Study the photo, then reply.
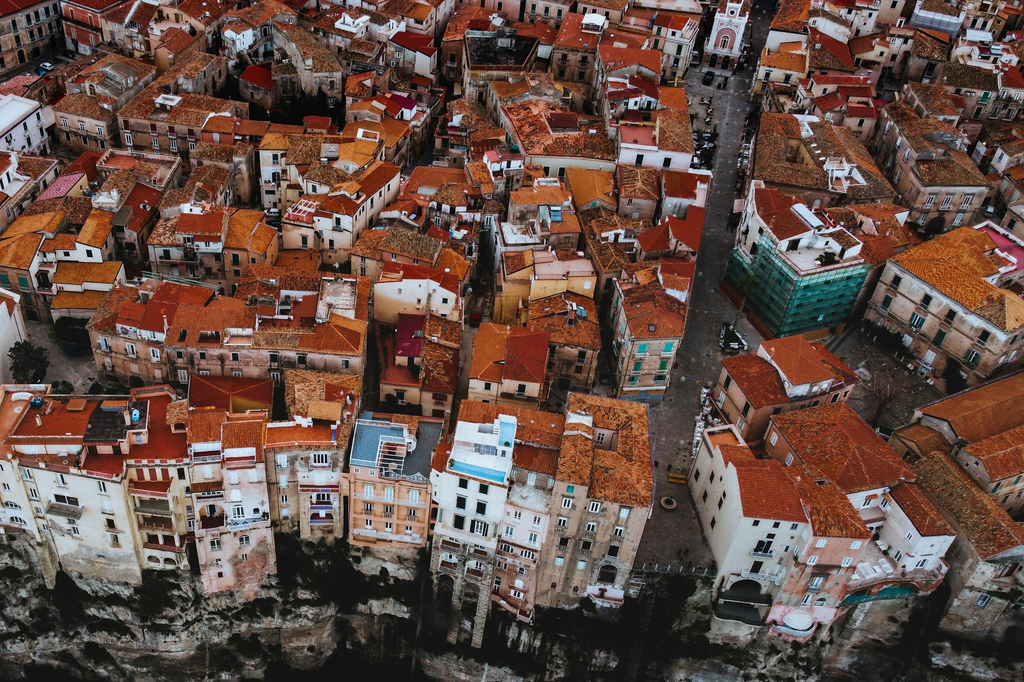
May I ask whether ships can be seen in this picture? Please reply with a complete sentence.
No, the frame has no ship in it.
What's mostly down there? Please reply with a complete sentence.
For the most part, this view shows buildings.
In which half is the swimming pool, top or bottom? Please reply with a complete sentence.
You can find the swimming pool in the bottom half.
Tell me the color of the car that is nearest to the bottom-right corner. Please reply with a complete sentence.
The car that is nearest to the bottom-right corner is black.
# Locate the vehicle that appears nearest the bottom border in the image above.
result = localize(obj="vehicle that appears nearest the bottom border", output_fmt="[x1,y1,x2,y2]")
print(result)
[868,419,896,444]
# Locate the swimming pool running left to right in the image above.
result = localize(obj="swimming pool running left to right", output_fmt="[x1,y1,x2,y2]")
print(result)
[452,461,506,482]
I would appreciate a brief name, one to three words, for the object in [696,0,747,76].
building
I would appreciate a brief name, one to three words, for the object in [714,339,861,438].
house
